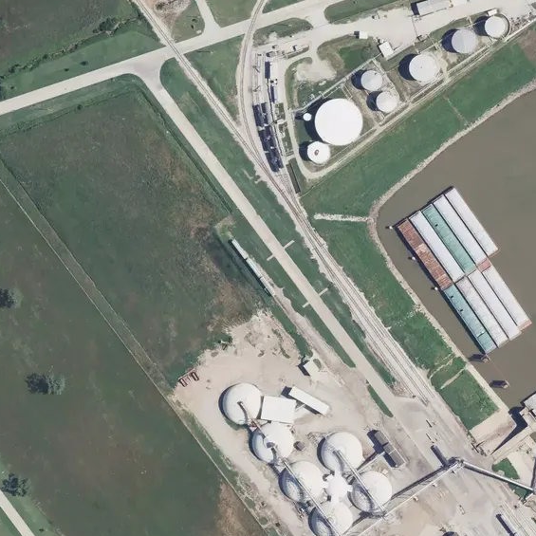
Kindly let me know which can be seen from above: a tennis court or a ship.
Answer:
ship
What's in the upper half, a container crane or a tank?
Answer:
tank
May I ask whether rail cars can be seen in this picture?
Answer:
Yes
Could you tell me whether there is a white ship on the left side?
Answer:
No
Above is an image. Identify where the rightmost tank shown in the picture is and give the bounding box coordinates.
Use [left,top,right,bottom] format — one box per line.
[482,11,512,41]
